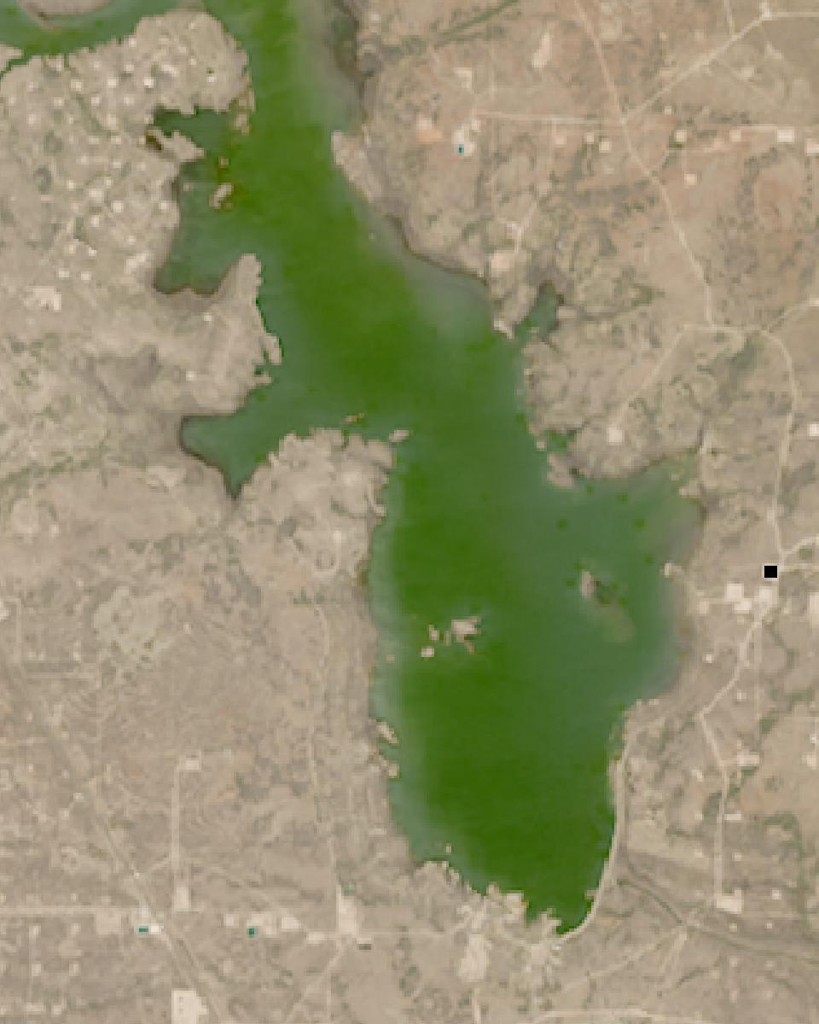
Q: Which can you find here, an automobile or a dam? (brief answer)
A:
dam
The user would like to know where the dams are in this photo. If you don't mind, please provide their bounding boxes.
[553,742,634,946]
